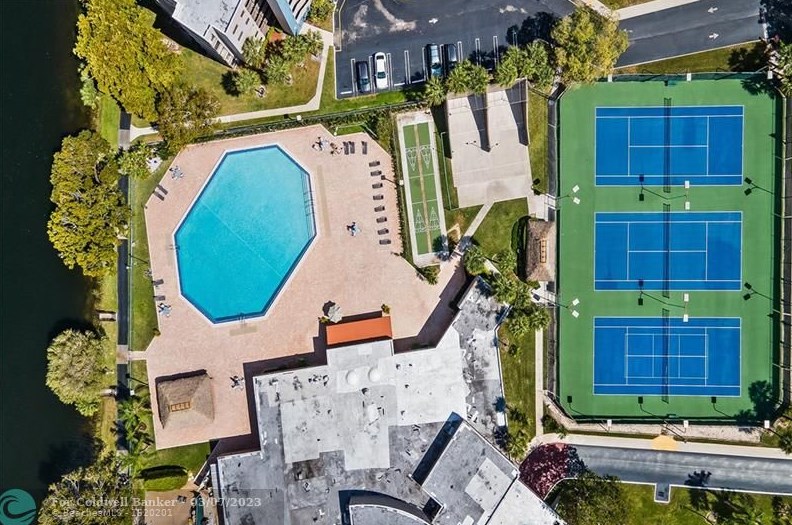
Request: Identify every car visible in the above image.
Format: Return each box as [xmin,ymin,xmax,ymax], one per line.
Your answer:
[444,43,459,74]
[374,51,389,88]
[355,60,370,93]
[427,44,443,82]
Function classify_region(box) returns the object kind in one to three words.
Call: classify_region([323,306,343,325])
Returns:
umbrella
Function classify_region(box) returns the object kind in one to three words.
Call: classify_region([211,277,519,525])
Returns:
building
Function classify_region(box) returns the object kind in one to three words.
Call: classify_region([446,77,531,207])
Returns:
sports court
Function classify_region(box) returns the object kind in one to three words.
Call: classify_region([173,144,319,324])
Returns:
swimming pool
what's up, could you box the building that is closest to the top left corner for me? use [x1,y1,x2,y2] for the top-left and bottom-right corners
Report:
[159,0,306,70]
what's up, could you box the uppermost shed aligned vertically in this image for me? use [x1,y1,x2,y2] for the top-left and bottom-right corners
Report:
[526,219,557,282]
